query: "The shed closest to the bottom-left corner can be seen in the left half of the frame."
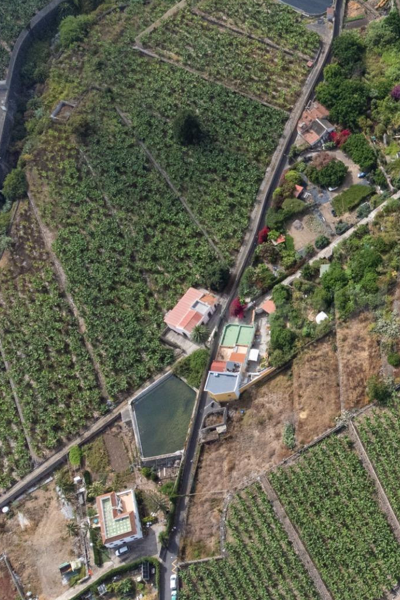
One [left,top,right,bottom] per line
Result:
[59,557,85,578]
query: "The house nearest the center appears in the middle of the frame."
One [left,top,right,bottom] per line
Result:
[164,287,219,339]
